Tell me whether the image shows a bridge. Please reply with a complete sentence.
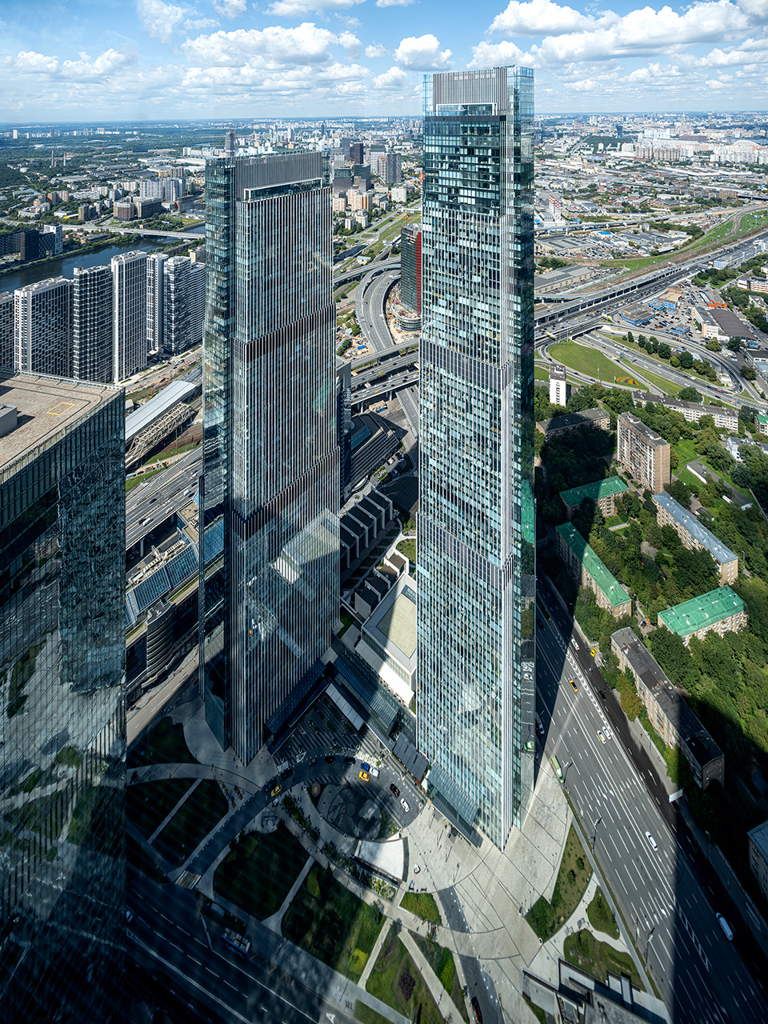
Yes, there's a bridge here.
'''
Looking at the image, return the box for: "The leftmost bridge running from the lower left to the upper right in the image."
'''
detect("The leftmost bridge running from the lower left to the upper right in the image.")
[124,401,209,473]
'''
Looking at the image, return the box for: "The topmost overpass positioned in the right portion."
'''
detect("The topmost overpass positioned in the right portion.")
[535,203,768,259]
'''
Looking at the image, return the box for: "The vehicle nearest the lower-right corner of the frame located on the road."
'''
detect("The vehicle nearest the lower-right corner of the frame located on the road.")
[715,910,732,938]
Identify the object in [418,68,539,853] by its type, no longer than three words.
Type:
building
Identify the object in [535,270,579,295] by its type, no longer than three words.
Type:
building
